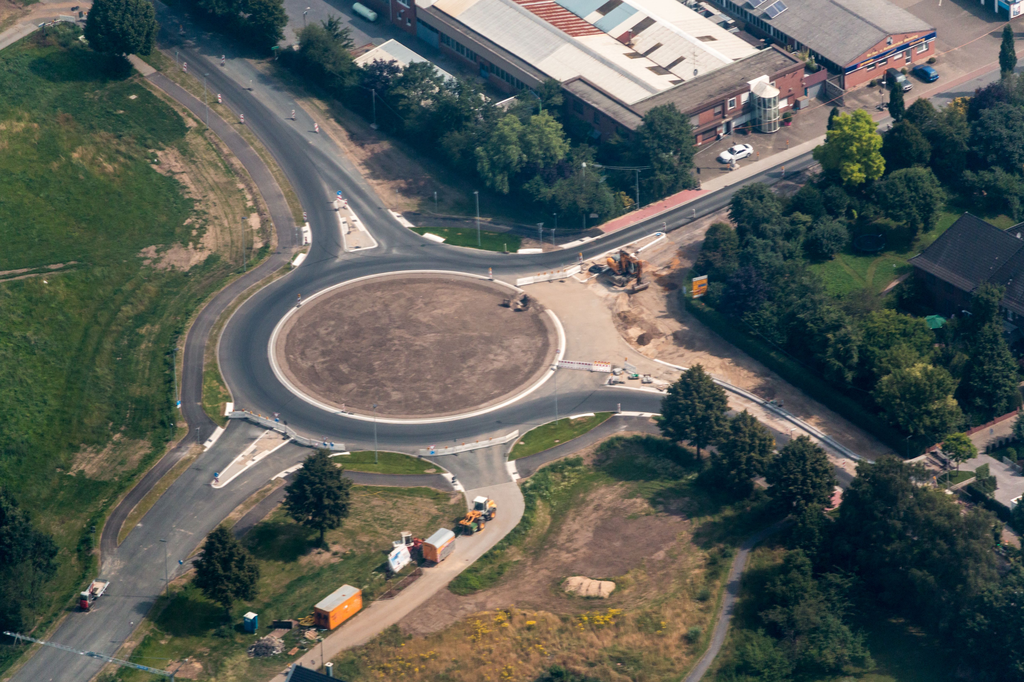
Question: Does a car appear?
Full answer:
Yes, there's a car down there.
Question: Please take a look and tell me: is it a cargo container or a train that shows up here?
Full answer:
The image shows a cargo container.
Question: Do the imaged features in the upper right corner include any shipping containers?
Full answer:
No, the scene shows no shipping container in the upper right corner.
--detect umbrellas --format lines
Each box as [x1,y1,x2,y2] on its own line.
[924,317,947,330]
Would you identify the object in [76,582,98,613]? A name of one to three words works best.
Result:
work vehicle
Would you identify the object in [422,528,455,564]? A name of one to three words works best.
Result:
trailer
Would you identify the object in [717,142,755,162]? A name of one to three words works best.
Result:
car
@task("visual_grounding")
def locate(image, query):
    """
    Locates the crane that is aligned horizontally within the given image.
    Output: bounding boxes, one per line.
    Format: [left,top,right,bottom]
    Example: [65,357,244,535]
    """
[2,630,188,682]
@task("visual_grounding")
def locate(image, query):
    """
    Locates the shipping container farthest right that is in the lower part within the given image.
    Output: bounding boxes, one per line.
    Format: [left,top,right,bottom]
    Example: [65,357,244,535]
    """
[313,579,366,630]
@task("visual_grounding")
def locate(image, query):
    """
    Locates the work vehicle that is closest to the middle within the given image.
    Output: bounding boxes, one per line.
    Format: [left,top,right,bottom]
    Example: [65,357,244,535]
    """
[601,253,651,292]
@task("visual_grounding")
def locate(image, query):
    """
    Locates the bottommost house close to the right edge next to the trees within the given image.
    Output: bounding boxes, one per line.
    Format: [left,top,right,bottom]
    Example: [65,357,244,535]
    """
[907,205,1024,341]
